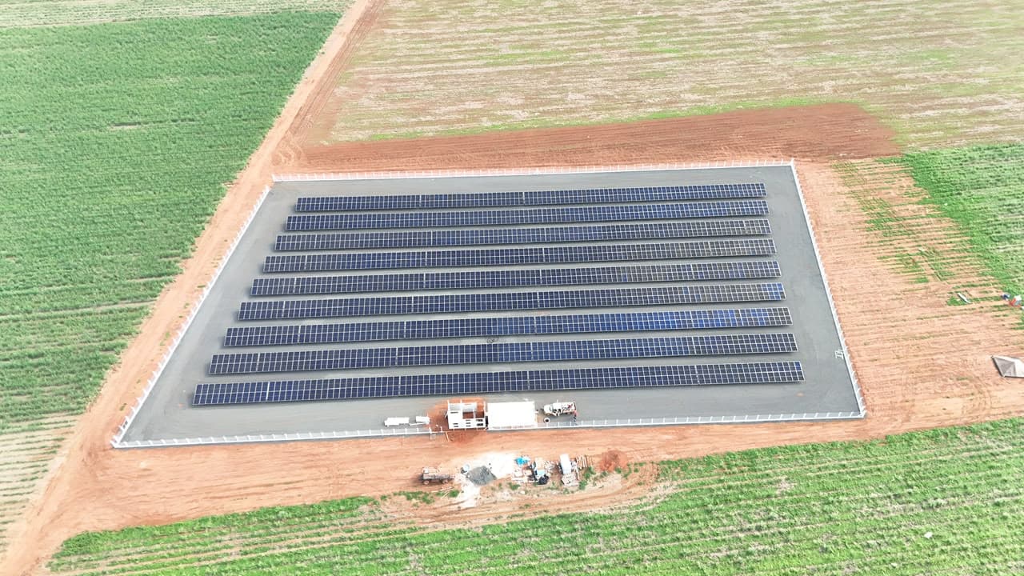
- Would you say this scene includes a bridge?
No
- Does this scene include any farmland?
Yes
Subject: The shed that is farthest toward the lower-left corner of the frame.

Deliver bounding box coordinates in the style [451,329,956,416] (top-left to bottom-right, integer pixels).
[448,397,485,428]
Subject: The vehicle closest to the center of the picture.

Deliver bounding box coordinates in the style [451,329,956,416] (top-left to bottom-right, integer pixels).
[542,399,575,417]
